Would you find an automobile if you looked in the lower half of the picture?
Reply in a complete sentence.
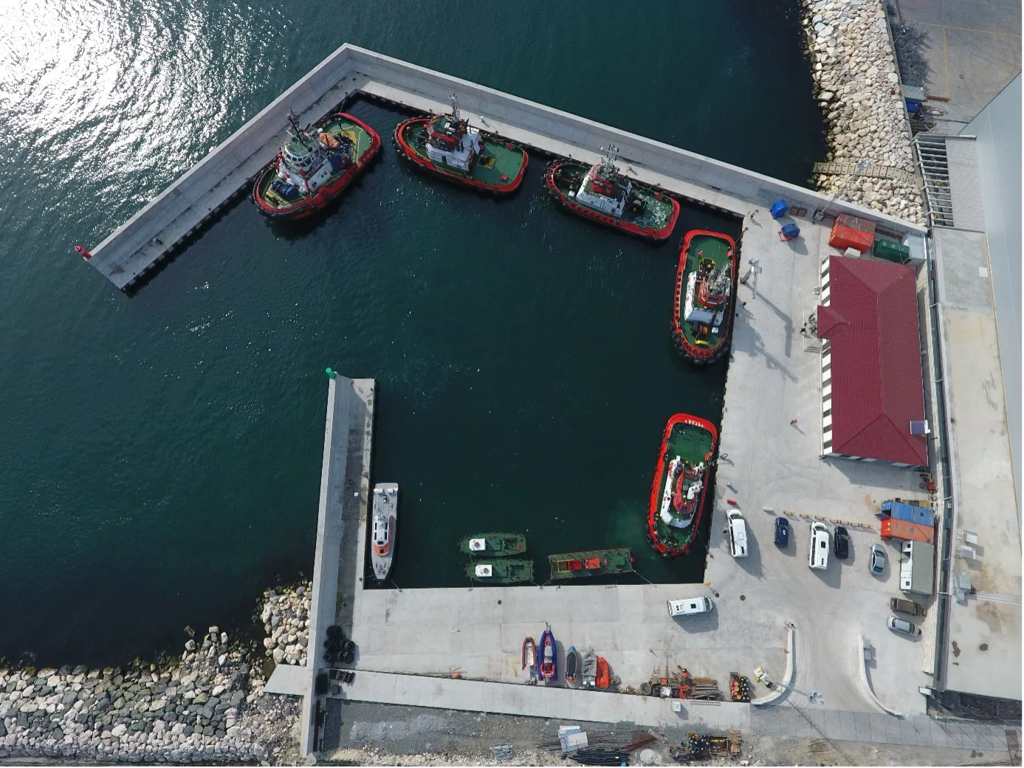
Yes, an automobile shows up in the lower half of the picture.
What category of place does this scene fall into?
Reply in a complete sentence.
It's a port.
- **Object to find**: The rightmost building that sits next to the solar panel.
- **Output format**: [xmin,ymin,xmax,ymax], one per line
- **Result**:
[921,227,1024,701]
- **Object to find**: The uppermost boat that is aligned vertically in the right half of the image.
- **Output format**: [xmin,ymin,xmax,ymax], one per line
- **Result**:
[673,233,738,365]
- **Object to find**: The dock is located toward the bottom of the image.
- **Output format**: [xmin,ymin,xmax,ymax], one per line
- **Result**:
[306,376,378,669]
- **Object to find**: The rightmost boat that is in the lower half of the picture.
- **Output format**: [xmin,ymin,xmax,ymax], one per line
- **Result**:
[647,414,716,558]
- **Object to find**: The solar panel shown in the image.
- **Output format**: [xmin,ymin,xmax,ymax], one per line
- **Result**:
[908,420,929,436]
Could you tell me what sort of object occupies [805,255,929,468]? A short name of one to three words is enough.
building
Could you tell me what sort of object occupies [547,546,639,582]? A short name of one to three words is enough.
ship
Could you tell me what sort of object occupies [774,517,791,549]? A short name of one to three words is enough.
car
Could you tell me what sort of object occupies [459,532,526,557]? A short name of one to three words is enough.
boat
